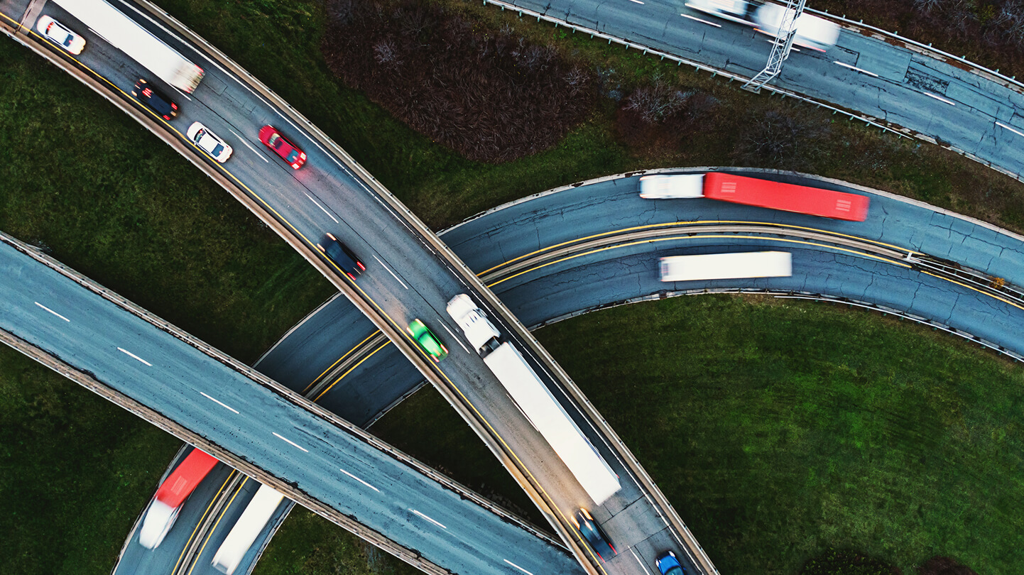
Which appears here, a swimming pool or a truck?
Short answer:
truck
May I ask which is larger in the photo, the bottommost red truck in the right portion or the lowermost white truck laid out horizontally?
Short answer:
the bottommost red truck in the right portion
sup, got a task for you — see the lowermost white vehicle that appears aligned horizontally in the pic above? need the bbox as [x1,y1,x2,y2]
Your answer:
[661,250,787,281]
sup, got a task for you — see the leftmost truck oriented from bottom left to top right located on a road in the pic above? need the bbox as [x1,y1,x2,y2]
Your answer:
[137,448,218,551]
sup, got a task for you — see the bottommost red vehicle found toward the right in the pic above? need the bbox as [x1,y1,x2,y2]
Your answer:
[640,170,866,225]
